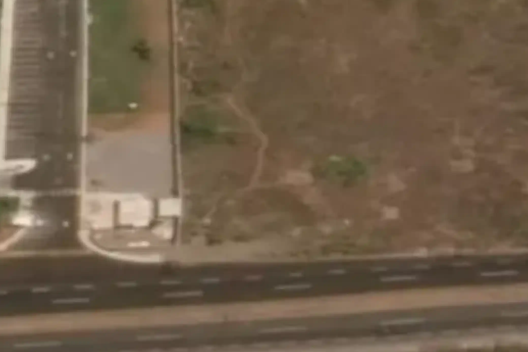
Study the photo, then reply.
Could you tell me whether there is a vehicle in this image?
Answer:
No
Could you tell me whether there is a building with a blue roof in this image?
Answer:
No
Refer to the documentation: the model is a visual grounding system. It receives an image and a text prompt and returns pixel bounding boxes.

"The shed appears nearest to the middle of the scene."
[159,199,181,223]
